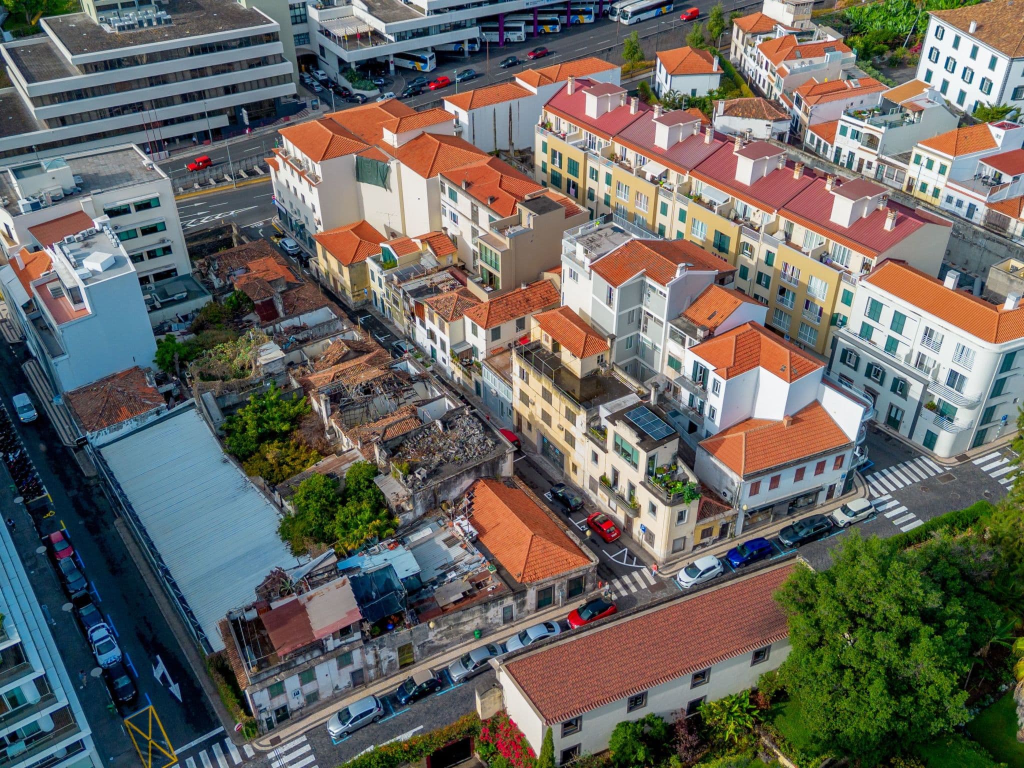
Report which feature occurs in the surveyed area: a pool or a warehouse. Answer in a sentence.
This aerial view contains a warehouse.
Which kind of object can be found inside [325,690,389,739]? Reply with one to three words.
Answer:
car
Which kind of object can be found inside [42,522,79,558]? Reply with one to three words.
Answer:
car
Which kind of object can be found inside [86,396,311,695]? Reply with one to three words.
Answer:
warehouse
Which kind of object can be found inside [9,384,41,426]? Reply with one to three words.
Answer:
van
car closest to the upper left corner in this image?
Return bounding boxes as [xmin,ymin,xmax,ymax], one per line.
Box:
[183,149,217,168]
